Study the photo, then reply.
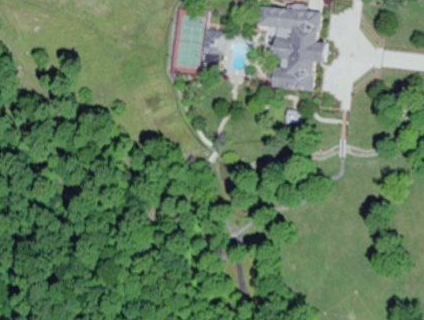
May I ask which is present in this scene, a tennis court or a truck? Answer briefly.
tennis court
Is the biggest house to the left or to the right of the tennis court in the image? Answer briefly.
to the right of it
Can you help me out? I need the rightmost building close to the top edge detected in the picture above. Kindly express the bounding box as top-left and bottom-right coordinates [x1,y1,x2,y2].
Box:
[258,3,334,92]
